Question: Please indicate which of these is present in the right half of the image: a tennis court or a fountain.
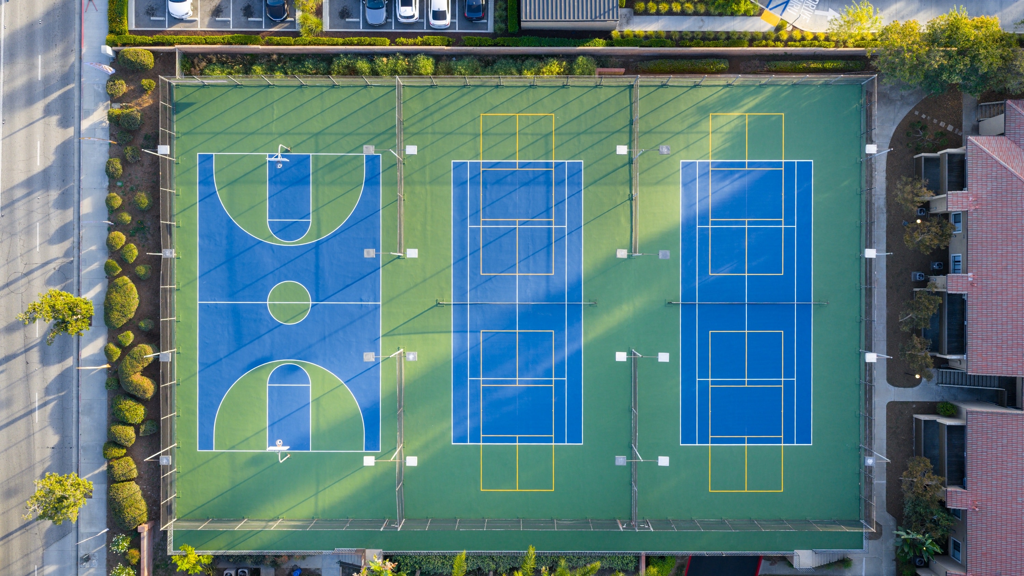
tennis court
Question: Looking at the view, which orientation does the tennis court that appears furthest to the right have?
from top to bottom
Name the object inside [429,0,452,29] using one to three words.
car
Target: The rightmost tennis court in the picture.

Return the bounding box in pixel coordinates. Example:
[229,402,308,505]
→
[680,113,813,492]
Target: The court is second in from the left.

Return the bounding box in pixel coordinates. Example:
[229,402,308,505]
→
[452,114,583,491]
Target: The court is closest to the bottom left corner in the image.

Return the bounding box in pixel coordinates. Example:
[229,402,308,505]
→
[197,153,381,452]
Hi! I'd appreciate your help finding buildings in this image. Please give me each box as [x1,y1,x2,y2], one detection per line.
[522,0,622,28]
[902,401,1024,576]
[913,98,1024,378]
